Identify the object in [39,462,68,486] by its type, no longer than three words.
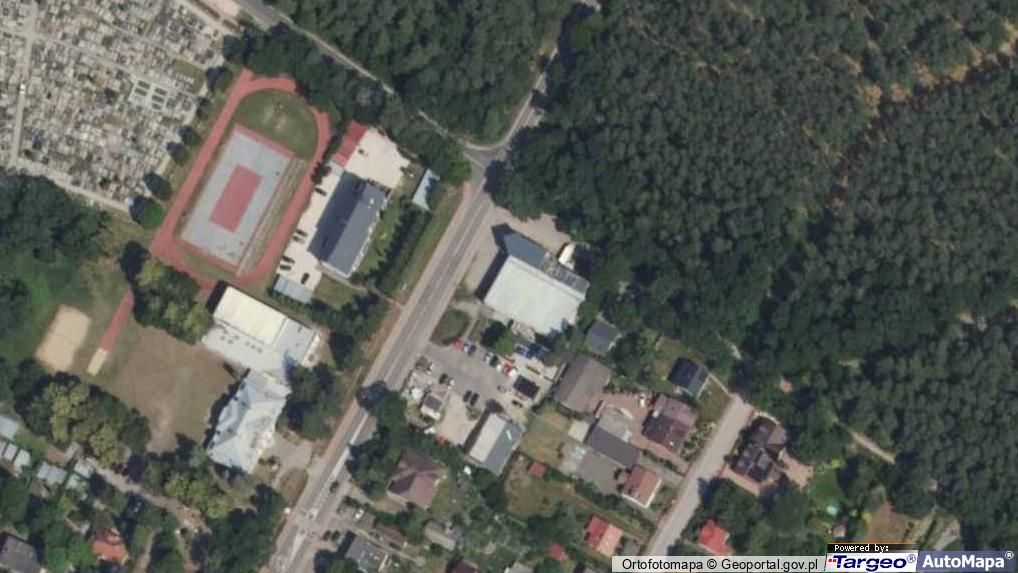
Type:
building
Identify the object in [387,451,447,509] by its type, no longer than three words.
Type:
house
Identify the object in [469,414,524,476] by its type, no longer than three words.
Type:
shed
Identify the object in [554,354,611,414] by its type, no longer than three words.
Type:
barn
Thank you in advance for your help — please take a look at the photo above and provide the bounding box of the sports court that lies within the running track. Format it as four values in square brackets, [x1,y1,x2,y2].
[176,122,298,276]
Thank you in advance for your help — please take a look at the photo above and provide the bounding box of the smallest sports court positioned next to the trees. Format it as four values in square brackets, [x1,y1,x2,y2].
[35,305,91,372]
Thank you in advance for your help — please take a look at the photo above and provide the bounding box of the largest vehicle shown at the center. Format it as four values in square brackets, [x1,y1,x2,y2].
[560,244,576,265]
